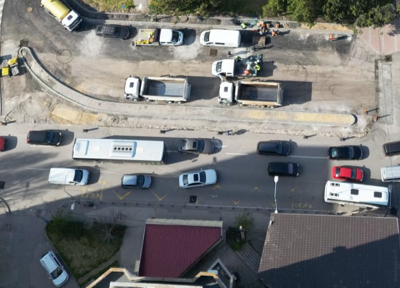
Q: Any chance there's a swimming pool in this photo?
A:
No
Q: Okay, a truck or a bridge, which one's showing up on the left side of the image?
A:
truck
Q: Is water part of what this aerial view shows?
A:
No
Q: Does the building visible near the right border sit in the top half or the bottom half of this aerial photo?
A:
bottom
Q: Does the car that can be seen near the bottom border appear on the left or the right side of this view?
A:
left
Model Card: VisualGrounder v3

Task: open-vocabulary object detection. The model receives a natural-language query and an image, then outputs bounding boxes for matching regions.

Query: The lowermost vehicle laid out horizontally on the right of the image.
[323,180,394,209]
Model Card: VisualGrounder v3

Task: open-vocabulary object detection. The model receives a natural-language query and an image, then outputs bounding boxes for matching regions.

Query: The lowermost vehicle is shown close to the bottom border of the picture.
[37,248,70,288]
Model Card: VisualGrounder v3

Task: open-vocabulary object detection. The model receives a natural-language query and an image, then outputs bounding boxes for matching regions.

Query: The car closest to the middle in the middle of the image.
[179,139,215,155]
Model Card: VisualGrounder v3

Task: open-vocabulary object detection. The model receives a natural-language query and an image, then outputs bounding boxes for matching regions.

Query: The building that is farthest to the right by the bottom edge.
[257,212,400,288]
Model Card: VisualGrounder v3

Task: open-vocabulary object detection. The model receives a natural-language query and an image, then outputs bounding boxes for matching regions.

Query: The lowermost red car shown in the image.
[331,164,364,181]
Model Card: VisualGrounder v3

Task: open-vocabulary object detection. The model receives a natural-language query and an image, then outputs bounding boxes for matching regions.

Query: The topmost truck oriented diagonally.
[37,0,88,33]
